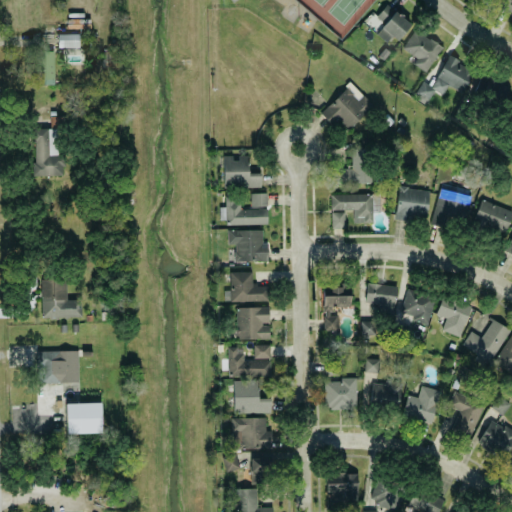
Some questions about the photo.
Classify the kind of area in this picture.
residential area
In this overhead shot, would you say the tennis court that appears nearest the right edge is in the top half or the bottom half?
top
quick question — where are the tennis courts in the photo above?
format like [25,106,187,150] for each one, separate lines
[320,0,378,38]
[301,0,334,16]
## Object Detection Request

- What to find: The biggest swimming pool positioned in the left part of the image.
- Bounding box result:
[66,49,85,70]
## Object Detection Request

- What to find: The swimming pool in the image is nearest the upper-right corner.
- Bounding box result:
[372,212,389,232]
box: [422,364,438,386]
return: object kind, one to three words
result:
swimming pool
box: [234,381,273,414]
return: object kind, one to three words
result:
house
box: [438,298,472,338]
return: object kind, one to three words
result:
house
